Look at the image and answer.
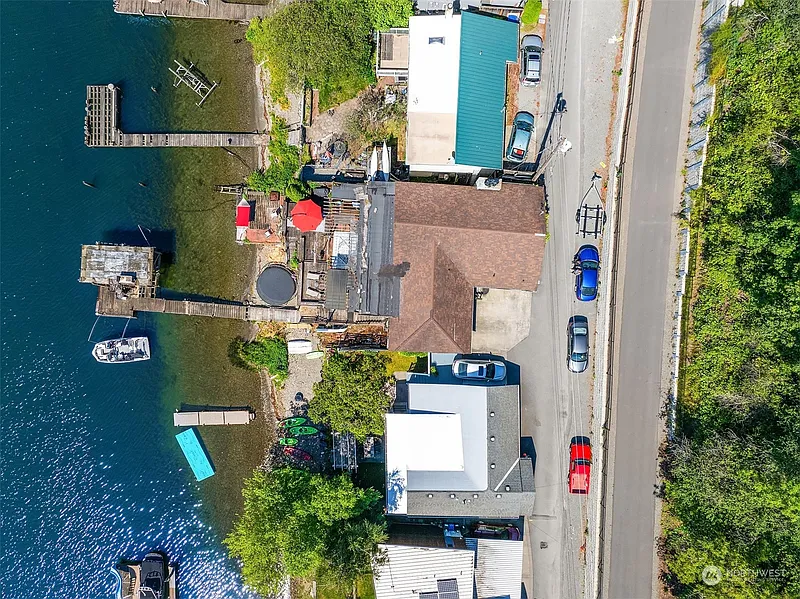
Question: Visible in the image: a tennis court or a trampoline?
trampoline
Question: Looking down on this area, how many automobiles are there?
seven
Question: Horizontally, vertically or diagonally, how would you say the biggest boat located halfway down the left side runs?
horizontally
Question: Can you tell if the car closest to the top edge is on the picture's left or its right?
right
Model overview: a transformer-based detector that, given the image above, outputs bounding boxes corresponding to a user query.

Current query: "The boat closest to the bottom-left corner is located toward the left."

[113,559,141,599]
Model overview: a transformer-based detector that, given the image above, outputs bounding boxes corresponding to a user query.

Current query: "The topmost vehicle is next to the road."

[519,35,546,92]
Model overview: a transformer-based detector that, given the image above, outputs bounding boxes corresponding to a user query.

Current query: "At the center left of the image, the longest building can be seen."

[79,244,302,322]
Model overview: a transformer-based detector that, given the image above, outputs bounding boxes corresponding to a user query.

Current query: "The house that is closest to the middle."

[332,180,547,356]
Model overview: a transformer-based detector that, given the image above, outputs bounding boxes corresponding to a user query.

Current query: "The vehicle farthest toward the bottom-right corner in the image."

[565,440,591,495]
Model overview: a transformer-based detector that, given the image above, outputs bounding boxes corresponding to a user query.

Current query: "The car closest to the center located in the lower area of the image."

[451,357,507,383]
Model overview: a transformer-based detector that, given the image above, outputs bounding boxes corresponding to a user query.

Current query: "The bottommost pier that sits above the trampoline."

[82,86,271,155]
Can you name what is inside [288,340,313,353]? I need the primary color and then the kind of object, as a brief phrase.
white boat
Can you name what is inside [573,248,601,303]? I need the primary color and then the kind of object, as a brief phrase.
blue car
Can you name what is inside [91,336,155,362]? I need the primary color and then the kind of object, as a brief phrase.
white boat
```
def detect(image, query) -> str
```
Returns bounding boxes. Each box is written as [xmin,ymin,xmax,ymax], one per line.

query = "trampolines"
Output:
[255,264,297,305]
